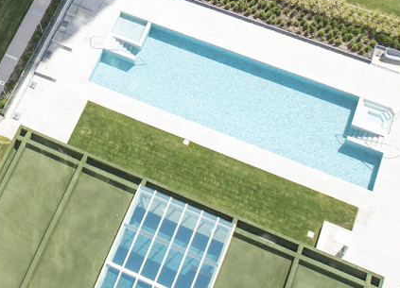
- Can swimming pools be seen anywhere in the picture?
Yes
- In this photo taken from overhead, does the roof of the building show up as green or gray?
green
